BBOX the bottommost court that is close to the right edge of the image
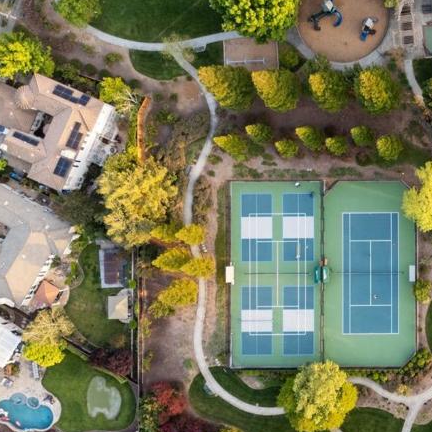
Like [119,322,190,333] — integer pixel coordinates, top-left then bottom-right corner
[324,182,414,368]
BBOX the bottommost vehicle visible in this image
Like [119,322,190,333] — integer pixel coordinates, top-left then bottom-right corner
[4,168,29,183]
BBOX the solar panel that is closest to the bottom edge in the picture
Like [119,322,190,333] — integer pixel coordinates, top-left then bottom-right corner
[53,156,72,178]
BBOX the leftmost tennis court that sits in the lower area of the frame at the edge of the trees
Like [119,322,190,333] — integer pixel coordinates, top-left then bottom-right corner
[229,180,322,368]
